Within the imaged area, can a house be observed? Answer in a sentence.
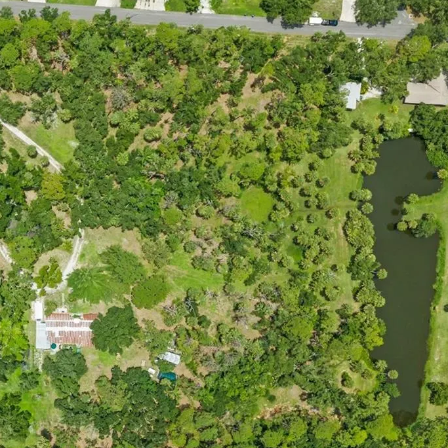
Yes, I can see a house in this picture.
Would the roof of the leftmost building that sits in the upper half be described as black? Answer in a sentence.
No, from above the roof of the leftmost building that sits in the upper half looks white.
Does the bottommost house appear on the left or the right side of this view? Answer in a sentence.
The bottommost house is on the left side of the image.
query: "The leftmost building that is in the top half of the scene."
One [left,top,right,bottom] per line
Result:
[337,83,361,110]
